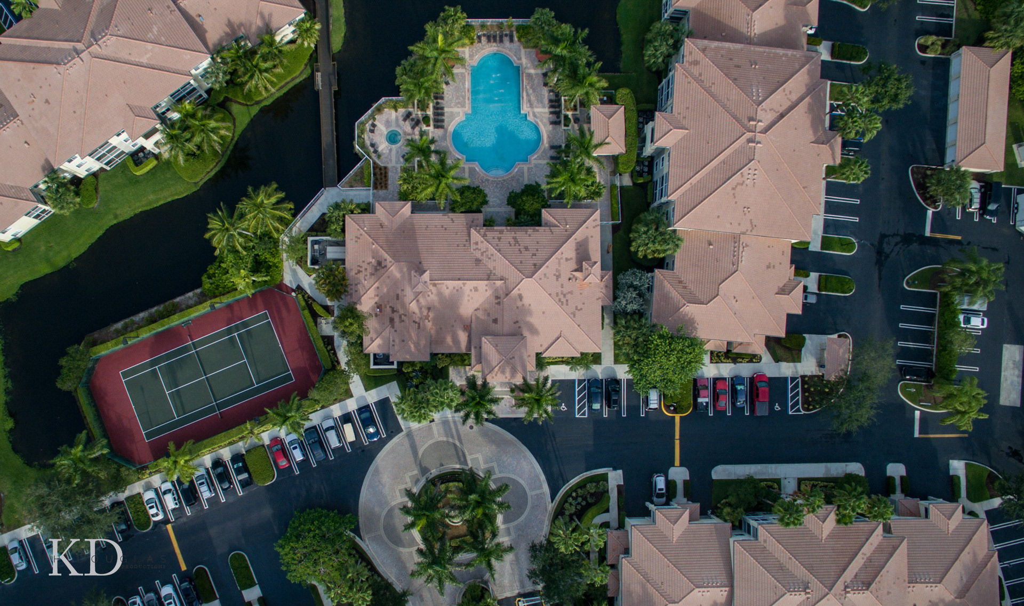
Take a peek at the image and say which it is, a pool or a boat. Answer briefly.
pool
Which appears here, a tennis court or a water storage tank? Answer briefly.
tennis court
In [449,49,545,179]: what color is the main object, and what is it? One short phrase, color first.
blue swimming pool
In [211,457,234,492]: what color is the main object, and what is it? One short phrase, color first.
black car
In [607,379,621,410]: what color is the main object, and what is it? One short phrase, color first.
black car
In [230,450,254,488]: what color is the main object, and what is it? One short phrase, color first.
black truck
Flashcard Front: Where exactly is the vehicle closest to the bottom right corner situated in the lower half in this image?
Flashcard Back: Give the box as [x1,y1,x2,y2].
[903,366,933,381]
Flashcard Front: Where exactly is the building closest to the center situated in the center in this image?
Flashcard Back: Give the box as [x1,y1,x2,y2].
[344,200,613,383]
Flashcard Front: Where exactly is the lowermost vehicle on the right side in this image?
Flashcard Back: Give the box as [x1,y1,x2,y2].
[652,473,667,503]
